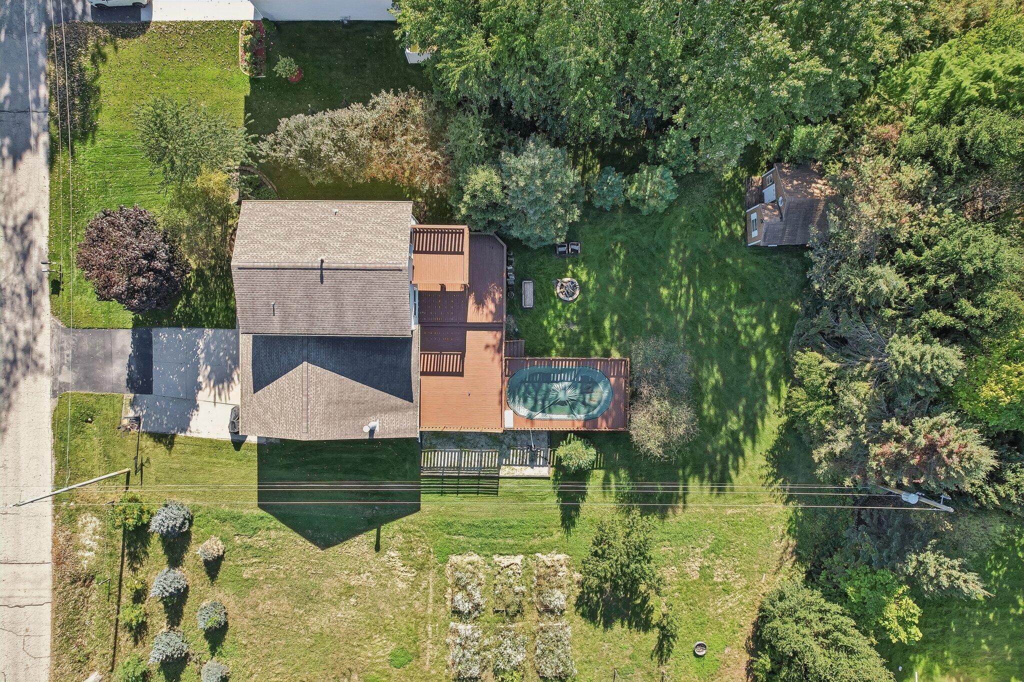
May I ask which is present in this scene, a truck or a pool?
pool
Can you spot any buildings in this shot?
Yes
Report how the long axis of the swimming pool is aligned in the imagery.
horizontally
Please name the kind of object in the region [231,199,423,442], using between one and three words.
house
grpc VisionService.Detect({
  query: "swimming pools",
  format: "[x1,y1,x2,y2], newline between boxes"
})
[506,366,612,421]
